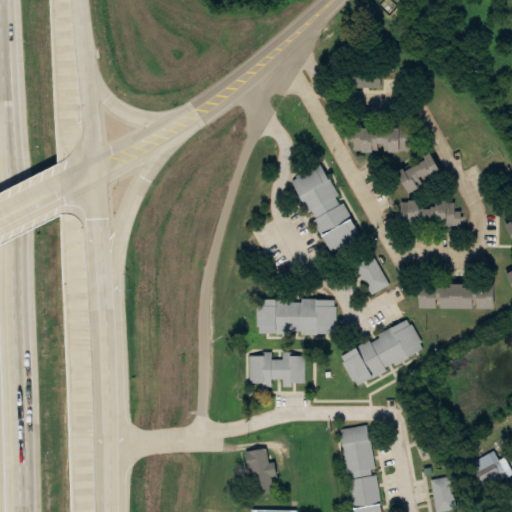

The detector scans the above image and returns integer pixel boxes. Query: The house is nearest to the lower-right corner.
[480,452,512,482]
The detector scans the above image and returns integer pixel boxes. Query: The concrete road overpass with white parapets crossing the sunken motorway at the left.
[0,163,60,245]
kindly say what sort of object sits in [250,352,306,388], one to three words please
building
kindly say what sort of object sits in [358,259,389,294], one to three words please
house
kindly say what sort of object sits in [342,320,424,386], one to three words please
building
